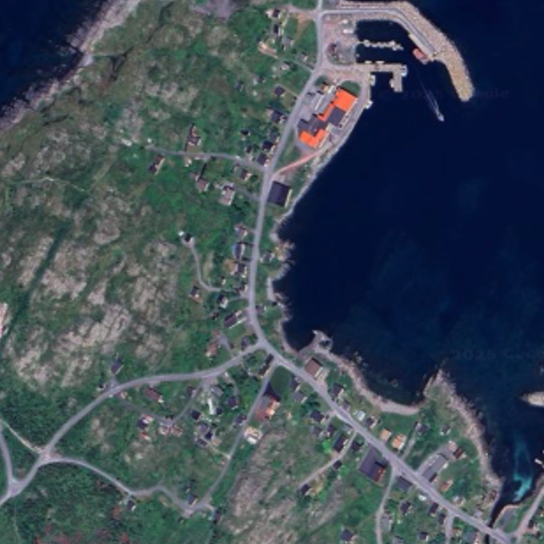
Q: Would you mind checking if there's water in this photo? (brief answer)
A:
Yes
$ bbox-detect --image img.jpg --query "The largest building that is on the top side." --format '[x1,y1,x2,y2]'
[297,84,362,147]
